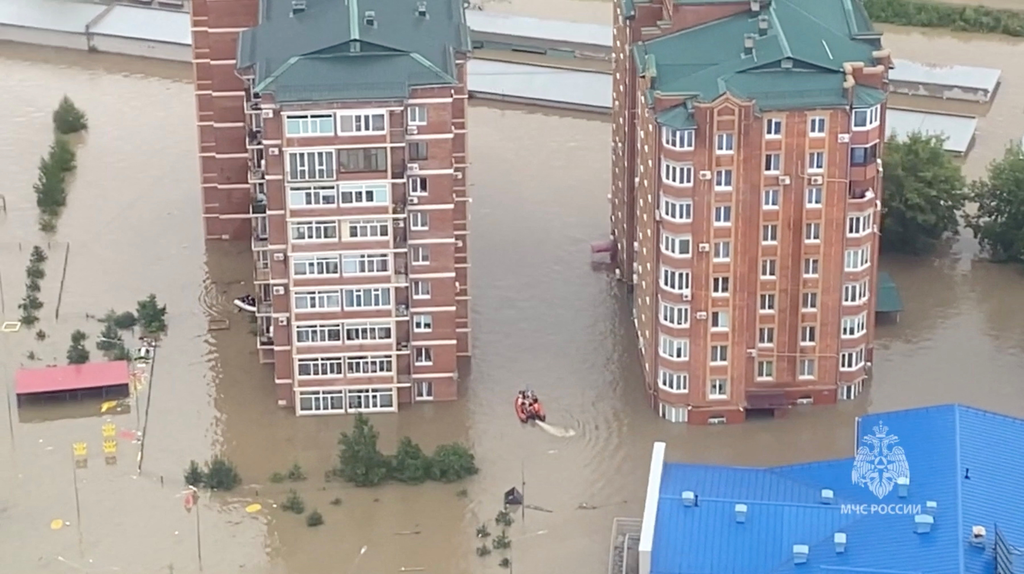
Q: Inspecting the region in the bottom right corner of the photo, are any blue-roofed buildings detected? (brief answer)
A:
Yes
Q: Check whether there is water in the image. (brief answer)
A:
Yes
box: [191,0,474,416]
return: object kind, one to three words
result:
building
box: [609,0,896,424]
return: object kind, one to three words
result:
building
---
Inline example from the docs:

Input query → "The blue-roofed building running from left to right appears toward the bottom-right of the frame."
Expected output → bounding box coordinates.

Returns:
[639,401,1024,574]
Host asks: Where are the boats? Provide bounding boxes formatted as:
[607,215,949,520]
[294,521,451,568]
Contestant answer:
[235,294,257,317]
[516,387,548,424]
